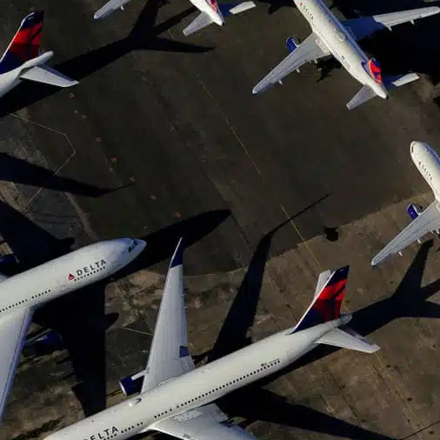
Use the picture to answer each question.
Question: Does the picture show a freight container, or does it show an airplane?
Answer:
airplane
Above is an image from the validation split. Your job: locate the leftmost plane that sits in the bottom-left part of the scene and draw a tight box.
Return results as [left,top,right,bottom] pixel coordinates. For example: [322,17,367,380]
[0,236,145,424]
